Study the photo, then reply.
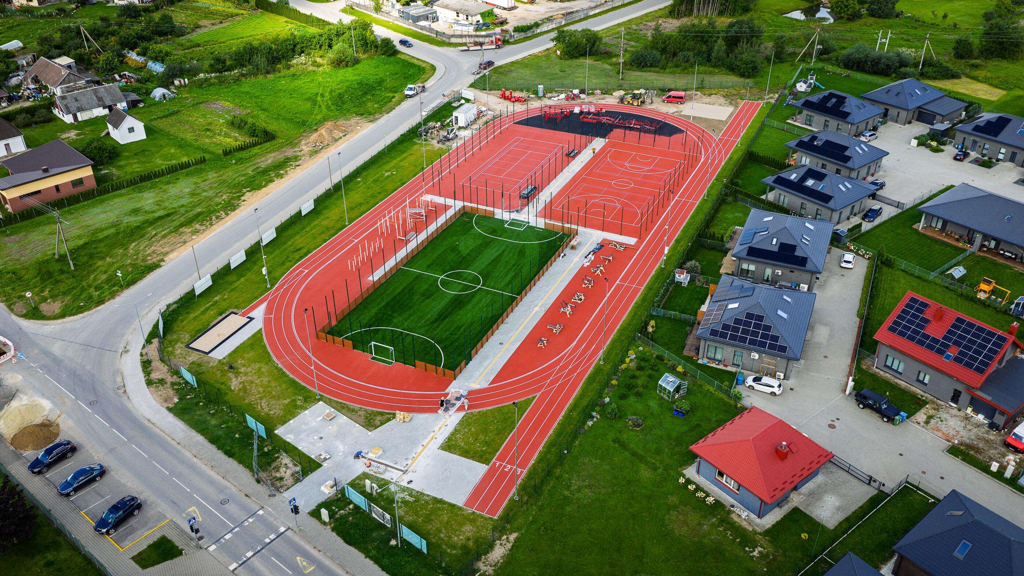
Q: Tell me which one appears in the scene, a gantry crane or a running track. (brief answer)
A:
running track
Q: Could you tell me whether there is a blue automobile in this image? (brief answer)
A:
Yes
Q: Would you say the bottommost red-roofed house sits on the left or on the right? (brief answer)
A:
right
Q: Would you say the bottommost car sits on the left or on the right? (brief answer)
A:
left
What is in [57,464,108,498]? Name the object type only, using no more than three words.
car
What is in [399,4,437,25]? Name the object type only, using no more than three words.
building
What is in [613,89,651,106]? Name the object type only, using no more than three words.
work vehicle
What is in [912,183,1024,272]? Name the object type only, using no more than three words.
house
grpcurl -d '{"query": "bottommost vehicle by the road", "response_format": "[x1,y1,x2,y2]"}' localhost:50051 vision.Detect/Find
[94,496,144,535]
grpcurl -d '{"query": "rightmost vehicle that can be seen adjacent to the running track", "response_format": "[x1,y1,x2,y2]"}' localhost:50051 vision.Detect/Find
[661,91,687,105]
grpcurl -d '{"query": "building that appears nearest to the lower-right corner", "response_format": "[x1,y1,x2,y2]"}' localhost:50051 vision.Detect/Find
[891,489,1024,576]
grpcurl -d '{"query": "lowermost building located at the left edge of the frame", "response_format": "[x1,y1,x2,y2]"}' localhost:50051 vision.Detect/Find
[0,139,98,213]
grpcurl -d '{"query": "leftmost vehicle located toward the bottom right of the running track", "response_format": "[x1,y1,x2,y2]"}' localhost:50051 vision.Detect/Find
[745,377,784,398]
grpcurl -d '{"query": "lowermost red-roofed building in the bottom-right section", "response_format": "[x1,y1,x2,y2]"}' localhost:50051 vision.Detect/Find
[688,406,837,518]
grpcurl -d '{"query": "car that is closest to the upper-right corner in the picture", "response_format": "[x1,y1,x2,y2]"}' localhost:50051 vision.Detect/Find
[954,150,971,162]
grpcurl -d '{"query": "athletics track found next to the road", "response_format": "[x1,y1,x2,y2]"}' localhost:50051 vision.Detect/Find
[262,103,715,413]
